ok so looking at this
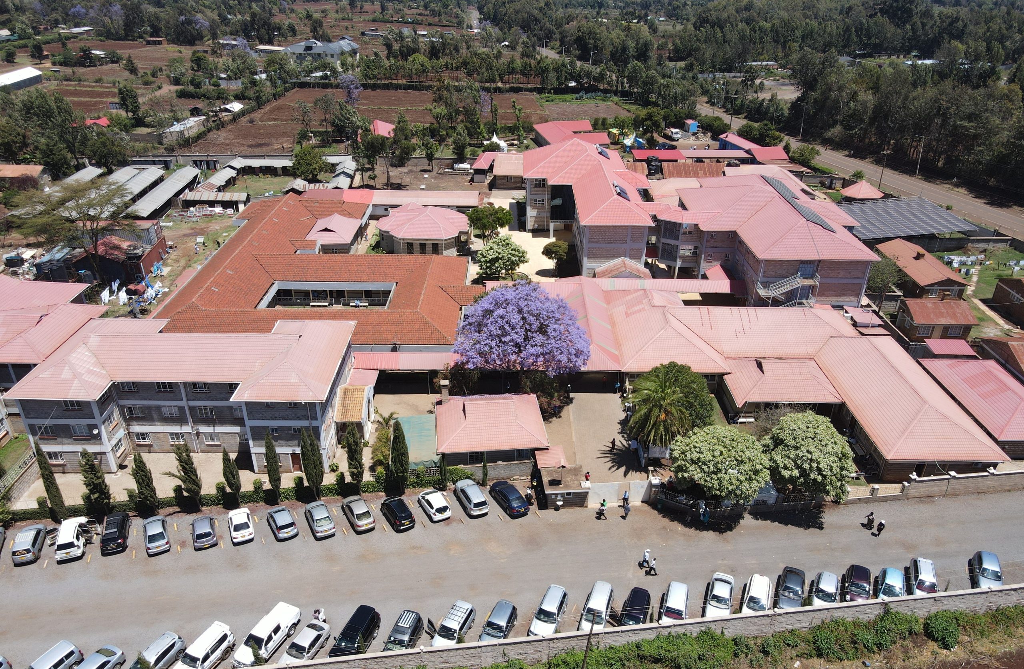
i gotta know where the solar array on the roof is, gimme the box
[758,172,835,230]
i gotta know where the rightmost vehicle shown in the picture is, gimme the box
[973,549,1007,586]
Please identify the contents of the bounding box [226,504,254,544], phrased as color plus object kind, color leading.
white car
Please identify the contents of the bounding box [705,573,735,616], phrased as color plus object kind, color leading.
white car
